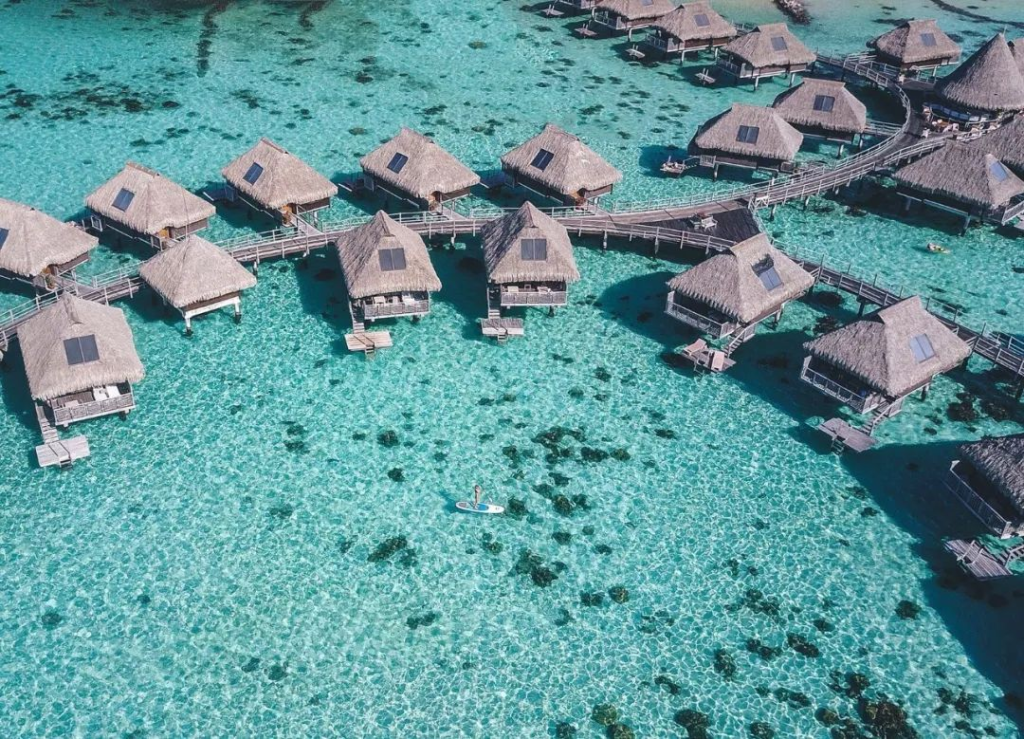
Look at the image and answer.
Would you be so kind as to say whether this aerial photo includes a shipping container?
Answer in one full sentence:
No, the scene contains no shipping container.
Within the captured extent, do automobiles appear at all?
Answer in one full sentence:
No, no automobile is visible in the view.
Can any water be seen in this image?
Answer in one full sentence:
Yes, water shows up in the scene.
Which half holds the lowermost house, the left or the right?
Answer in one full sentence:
The lowermost house is on the right side of the image.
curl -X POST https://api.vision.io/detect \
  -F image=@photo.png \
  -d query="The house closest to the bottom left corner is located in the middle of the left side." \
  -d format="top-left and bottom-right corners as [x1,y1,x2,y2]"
[17,292,150,469]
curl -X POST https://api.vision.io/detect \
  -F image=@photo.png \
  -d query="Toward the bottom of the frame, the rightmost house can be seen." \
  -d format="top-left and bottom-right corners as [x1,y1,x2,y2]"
[945,432,1024,577]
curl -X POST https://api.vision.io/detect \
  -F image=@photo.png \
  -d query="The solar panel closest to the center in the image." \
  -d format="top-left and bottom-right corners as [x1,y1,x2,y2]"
[521,240,546,261]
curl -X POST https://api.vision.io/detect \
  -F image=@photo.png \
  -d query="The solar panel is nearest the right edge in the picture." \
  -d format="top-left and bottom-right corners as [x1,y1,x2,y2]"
[994,163,1015,185]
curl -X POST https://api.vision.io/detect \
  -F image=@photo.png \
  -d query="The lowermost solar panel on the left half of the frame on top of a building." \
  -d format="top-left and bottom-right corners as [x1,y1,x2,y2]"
[65,336,102,367]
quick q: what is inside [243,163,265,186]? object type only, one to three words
solar panel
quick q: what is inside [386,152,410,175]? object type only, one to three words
solar panel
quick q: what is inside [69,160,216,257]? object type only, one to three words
house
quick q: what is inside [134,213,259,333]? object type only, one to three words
building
